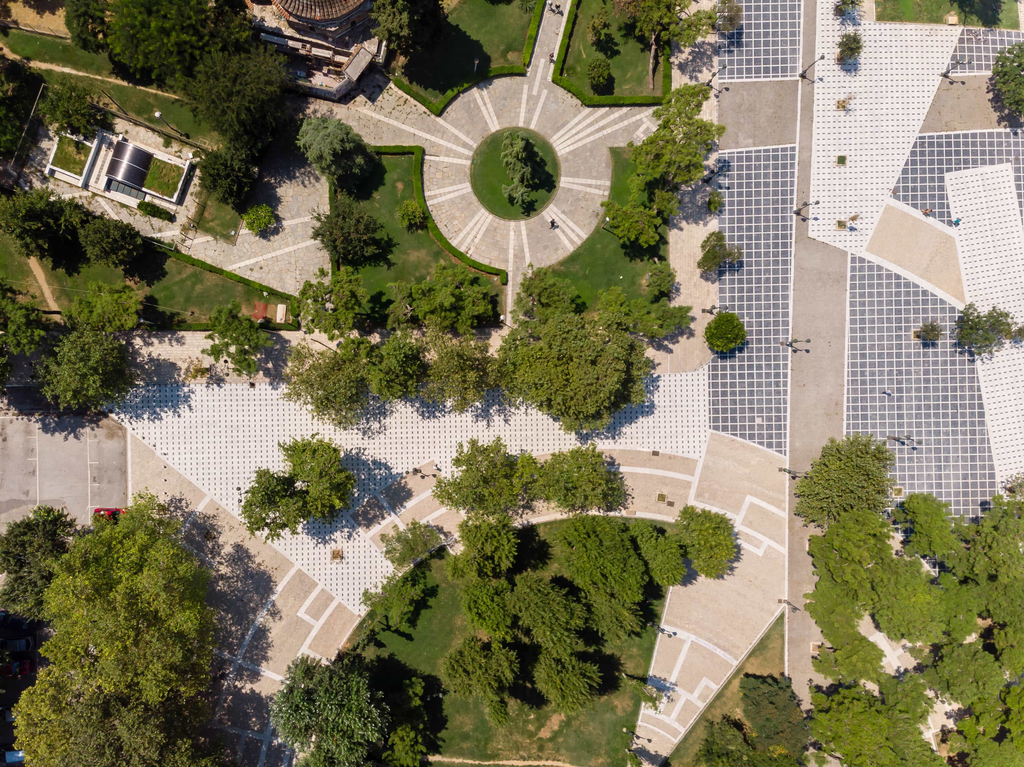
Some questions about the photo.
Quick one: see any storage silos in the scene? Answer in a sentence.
No, I can see no storage silo in this picture.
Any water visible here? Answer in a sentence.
No, the picture contains no water.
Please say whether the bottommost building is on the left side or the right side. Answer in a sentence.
The bottommost building sits on the left side.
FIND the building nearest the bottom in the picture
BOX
[43,130,197,211]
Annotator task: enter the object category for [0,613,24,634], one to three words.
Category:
car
